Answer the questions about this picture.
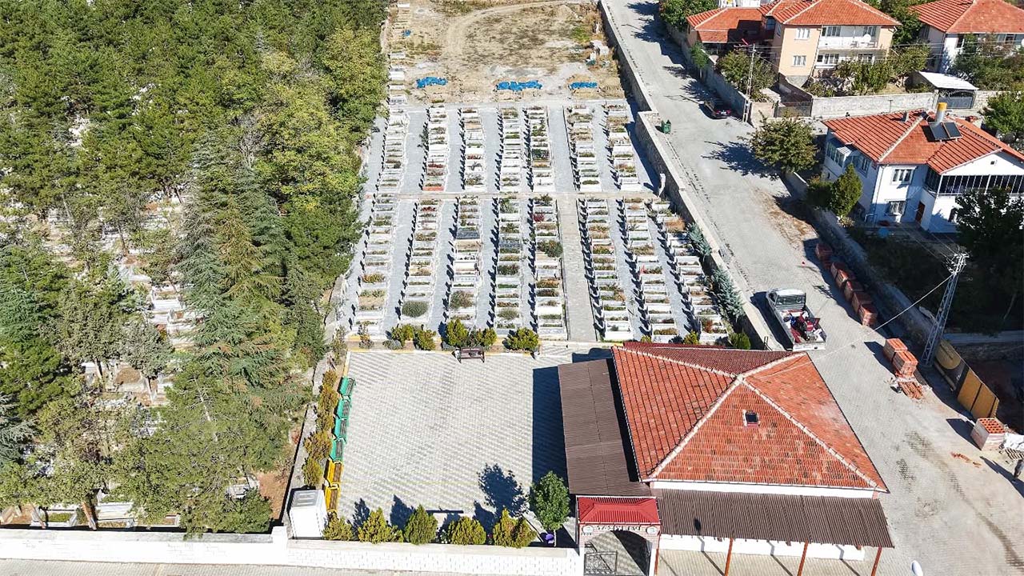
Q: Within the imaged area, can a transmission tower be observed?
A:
Yes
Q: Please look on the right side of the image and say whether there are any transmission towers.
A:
Yes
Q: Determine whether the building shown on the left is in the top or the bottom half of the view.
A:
bottom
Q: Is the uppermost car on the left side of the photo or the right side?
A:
right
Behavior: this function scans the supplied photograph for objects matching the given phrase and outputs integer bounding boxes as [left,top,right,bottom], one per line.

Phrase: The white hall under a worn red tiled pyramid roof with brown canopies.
[557,344,893,576]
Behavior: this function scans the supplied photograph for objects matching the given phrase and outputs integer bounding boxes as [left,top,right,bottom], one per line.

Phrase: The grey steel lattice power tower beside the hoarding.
[915,252,978,374]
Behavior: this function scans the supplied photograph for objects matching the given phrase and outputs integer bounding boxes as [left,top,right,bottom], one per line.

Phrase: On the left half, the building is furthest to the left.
[290,489,329,538]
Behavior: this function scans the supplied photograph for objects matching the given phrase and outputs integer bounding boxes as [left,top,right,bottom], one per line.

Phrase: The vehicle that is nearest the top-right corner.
[699,93,733,116]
